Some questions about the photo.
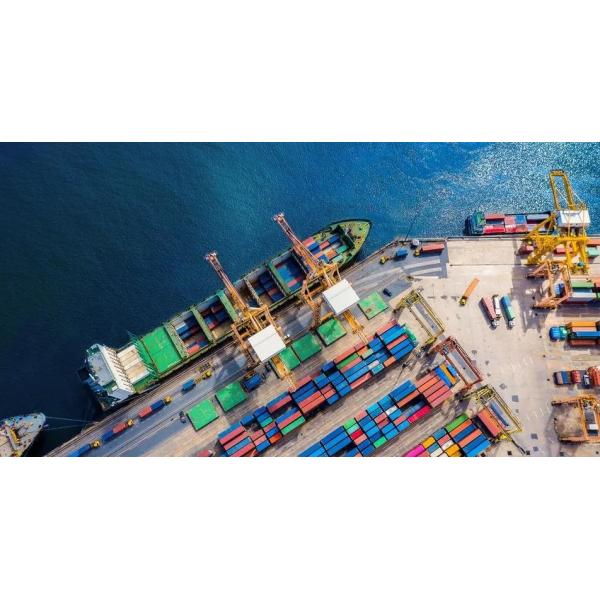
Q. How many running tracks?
0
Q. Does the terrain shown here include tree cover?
No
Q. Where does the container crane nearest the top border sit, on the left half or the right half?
right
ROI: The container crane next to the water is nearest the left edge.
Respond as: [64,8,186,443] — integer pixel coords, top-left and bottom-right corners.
[205,253,295,383]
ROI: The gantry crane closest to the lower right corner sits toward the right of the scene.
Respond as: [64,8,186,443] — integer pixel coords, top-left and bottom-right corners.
[553,396,600,441]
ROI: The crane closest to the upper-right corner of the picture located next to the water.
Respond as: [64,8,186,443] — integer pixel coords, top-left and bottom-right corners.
[519,170,596,271]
